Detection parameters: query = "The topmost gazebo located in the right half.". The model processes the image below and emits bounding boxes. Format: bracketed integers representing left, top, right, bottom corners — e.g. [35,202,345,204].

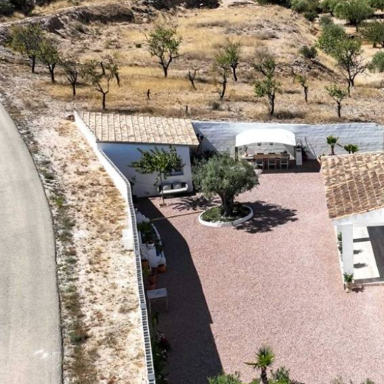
[235,131,300,171]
